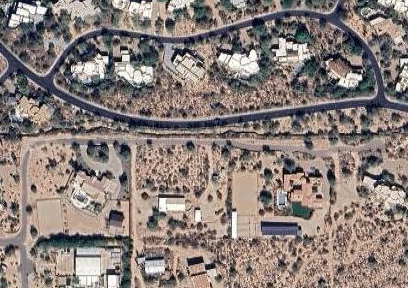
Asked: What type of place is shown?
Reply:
residential area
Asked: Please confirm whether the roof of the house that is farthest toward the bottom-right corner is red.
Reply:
No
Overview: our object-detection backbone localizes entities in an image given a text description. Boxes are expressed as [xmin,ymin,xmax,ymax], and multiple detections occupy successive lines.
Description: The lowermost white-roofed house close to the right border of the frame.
[361,174,408,210]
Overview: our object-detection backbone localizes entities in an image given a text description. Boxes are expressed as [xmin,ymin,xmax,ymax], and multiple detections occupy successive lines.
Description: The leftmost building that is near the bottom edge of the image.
[75,249,101,286]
